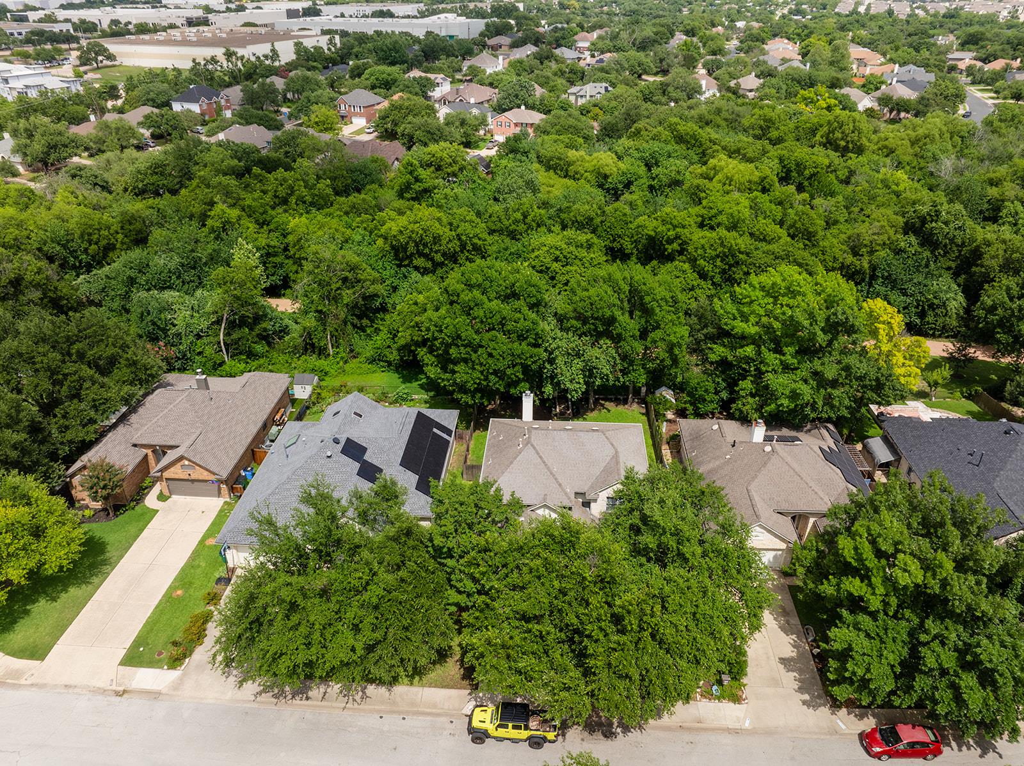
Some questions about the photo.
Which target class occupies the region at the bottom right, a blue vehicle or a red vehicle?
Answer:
red vehicle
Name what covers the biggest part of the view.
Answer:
trees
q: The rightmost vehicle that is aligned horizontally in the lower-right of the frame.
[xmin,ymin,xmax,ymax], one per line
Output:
[862,719,951,762]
